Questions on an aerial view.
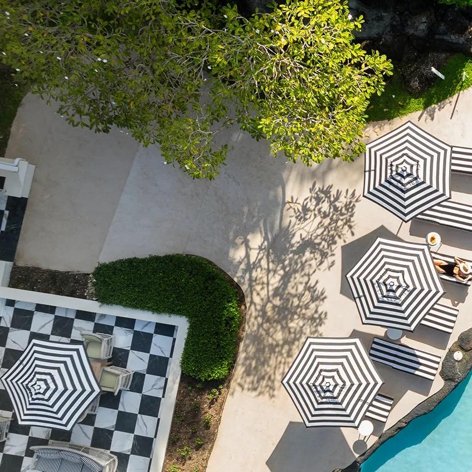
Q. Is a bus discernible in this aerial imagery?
No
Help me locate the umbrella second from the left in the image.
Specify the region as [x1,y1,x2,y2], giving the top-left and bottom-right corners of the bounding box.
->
[280,334,382,424]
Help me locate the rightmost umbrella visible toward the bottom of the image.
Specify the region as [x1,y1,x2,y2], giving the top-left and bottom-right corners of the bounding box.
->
[345,237,443,332]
